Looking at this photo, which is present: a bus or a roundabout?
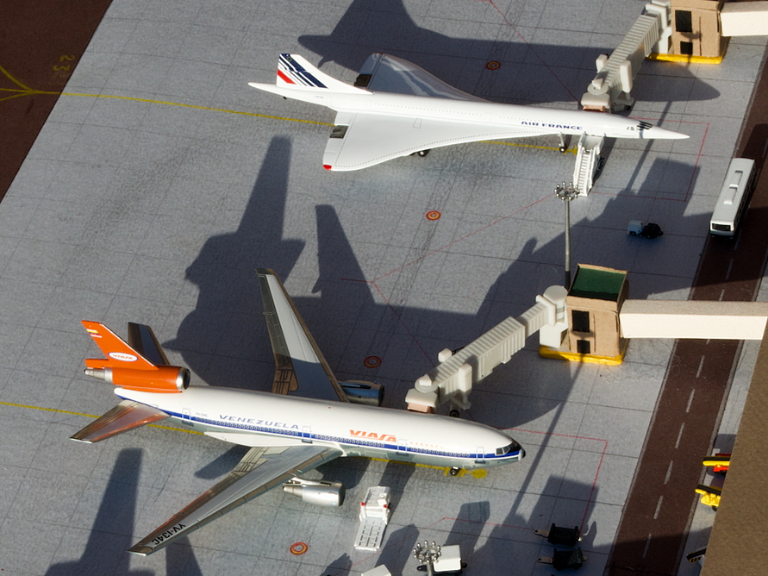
bus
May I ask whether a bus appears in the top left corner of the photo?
No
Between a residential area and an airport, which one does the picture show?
airport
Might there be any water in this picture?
No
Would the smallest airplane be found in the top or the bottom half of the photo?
top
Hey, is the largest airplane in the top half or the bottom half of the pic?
bottom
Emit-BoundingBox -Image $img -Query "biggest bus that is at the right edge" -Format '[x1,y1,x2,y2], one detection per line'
[711,159,754,238]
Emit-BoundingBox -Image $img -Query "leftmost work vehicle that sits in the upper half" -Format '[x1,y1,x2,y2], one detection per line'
[628,213,667,236]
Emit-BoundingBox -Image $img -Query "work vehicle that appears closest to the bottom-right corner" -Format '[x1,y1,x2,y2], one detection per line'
[685,553,706,574]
